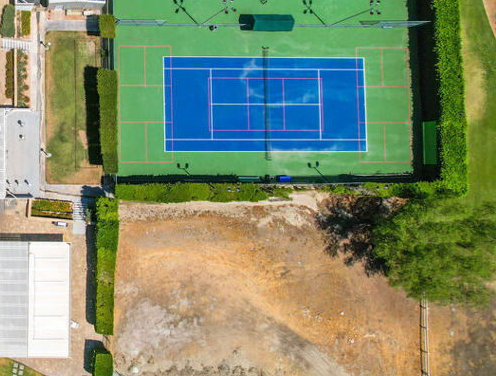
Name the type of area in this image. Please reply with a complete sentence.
The area seen from above is a sports ground.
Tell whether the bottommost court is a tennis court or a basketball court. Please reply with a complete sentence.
From above, the bottommost court can be identified as a tennis court.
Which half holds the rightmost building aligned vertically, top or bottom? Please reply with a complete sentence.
It is in the bottom half that the rightmost building aligned vertically appears.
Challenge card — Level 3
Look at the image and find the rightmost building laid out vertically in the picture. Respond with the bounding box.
[27,239,70,358]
